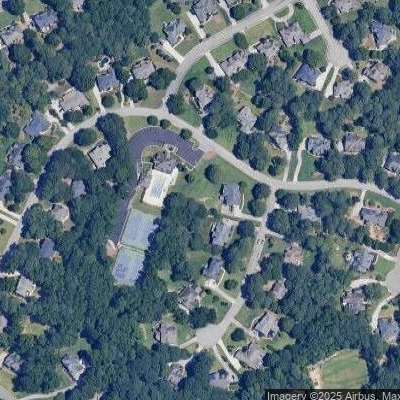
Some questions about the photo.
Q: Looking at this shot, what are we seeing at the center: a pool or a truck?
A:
pool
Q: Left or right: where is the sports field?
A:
right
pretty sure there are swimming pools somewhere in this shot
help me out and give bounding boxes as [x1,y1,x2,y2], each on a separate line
[100,56,110,69]
[143,168,179,206]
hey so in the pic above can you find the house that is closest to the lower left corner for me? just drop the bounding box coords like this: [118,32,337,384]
[2,349,26,374]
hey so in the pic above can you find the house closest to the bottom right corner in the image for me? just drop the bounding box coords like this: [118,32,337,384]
[377,315,400,342]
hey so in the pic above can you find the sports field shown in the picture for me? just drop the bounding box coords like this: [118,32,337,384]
[310,350,369,398]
